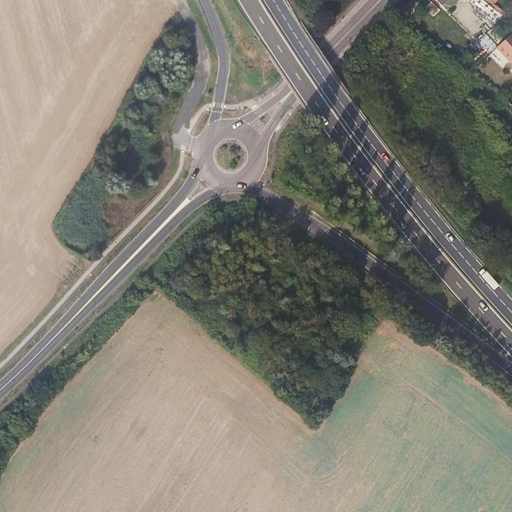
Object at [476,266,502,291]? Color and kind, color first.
white truck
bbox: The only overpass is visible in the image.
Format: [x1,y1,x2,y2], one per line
[260,5,356,124]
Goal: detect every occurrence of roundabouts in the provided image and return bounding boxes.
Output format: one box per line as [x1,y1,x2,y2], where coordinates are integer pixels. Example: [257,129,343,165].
[190,108,274,196]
